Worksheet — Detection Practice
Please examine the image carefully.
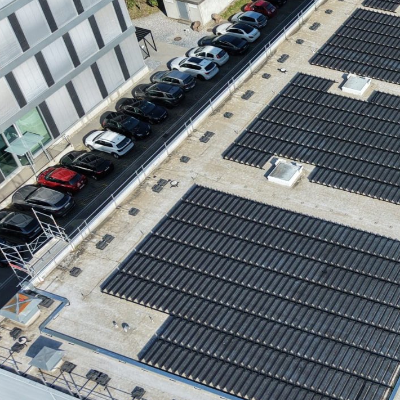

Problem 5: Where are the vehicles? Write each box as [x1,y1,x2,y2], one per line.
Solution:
[243,0,278,20]
[115,96,170,128]
[191,46,228,69]
[227,8,269,33]
[153,71,197,96]
[199,34,247,58]
[80,130,134,161]
[214,22,261,45]
[0,237,20,270]
[0,210,49,246]
[99,113,151,142]
[13,188,74,223]
[59,150,117,183]
[262,0,289,11]
[135,83,185,111]
[39,168,92,201]
[171,57,218,83]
